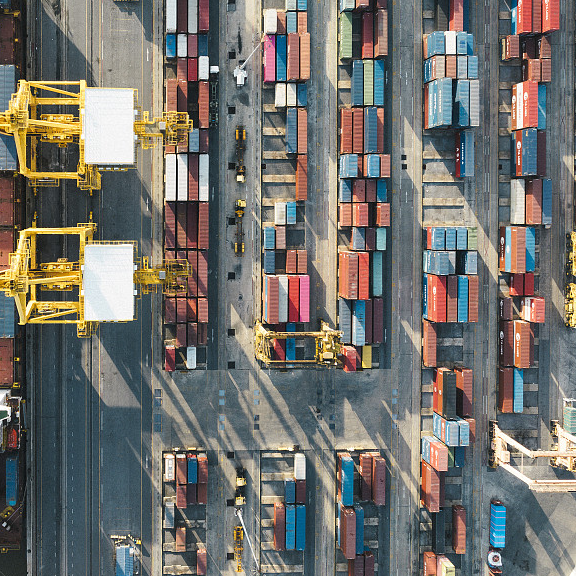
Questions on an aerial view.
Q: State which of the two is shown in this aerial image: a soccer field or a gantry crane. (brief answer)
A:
gantry crane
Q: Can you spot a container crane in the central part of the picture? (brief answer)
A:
Yes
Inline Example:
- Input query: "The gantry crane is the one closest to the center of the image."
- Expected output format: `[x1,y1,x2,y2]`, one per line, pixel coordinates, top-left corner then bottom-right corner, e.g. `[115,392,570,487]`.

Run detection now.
[253,316,351,366]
